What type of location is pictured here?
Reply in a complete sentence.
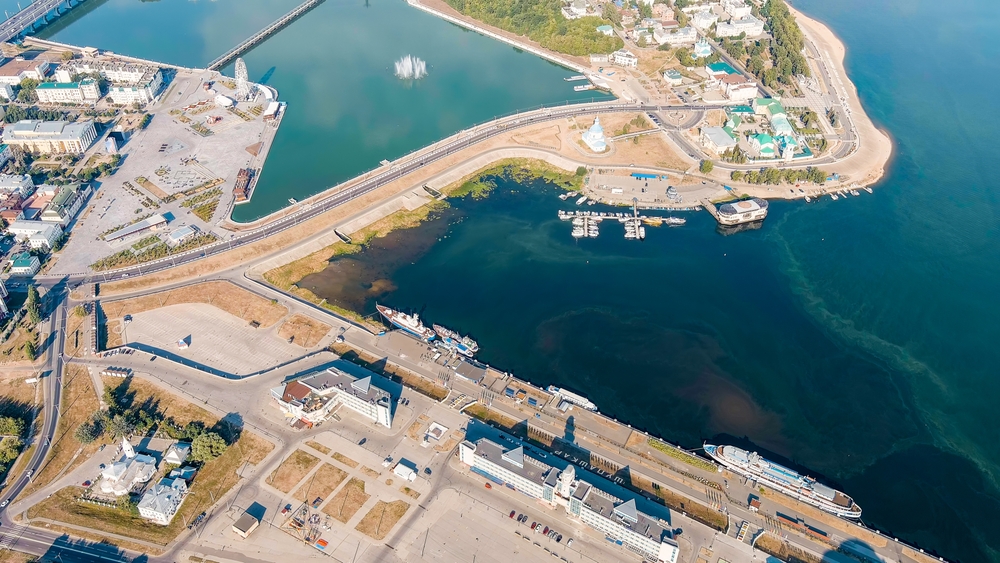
The area seen from above is a port.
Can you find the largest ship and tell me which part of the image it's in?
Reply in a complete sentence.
The largest ship is in the bottom right part of the image.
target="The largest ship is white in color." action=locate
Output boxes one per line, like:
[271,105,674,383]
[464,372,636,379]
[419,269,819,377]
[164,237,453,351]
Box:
[706,438,863,517]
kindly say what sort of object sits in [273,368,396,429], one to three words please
building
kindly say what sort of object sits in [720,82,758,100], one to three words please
house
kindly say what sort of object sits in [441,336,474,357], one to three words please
boat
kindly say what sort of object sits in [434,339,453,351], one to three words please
boat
